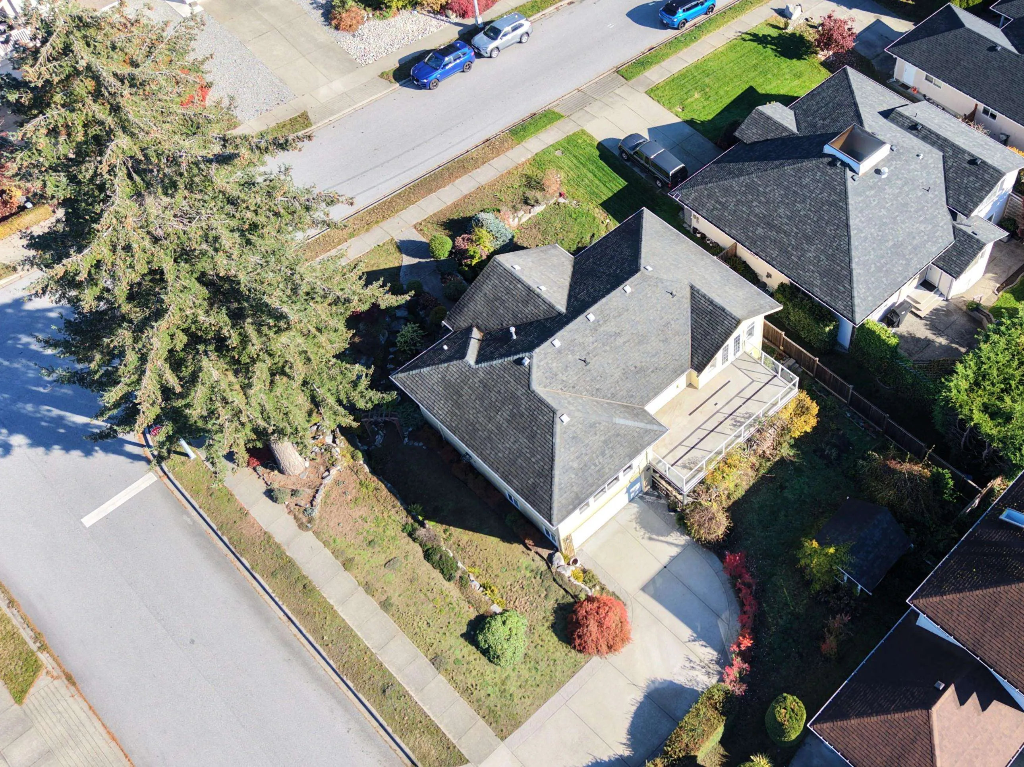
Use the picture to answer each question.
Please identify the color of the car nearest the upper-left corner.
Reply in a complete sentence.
From above, the car nearest the upper-left corner appears blue.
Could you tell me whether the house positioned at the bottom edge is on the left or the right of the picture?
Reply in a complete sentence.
You can find the house positioned at the bottom edge on the right side of the picture.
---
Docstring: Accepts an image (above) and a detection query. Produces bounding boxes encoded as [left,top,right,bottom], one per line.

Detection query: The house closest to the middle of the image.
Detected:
[390,207,783,554]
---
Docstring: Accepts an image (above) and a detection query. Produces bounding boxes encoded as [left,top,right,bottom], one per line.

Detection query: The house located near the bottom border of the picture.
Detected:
[807,472,1024,767]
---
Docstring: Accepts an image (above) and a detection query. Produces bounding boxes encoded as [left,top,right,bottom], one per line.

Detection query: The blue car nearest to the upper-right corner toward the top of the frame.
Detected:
[658,0,717,30]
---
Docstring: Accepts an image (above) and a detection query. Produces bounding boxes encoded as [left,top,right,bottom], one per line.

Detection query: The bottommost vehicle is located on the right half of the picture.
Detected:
[617,133,688,187]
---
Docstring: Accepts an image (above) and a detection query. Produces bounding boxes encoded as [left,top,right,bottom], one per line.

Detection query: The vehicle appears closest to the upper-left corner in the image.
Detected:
[407,41,475,90]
